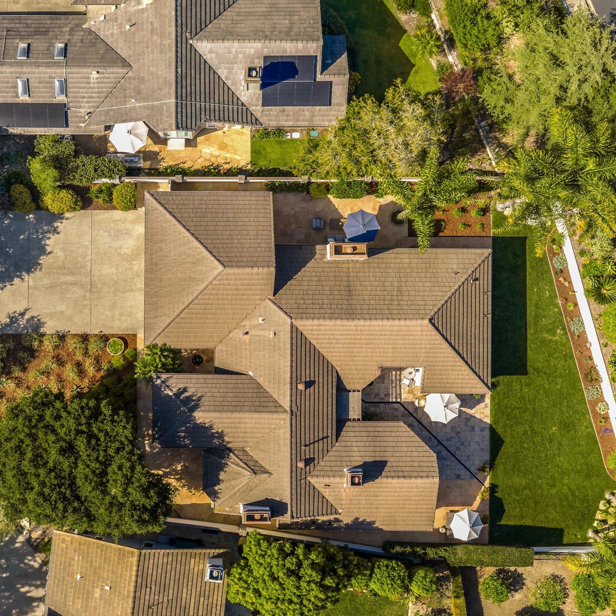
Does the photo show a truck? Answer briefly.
No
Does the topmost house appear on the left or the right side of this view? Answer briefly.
left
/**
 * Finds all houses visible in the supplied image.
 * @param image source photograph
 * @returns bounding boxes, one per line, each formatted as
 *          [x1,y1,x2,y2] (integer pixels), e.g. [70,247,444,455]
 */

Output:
[143,190,493,533]
[38,526,232,616]
[0,0,351,148]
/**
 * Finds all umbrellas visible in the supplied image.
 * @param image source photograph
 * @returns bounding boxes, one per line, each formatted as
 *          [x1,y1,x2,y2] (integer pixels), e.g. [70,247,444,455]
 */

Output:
[342,209,378,243]
[450,507,481,540]
[421,394,461,427]
[110,125,149,159]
